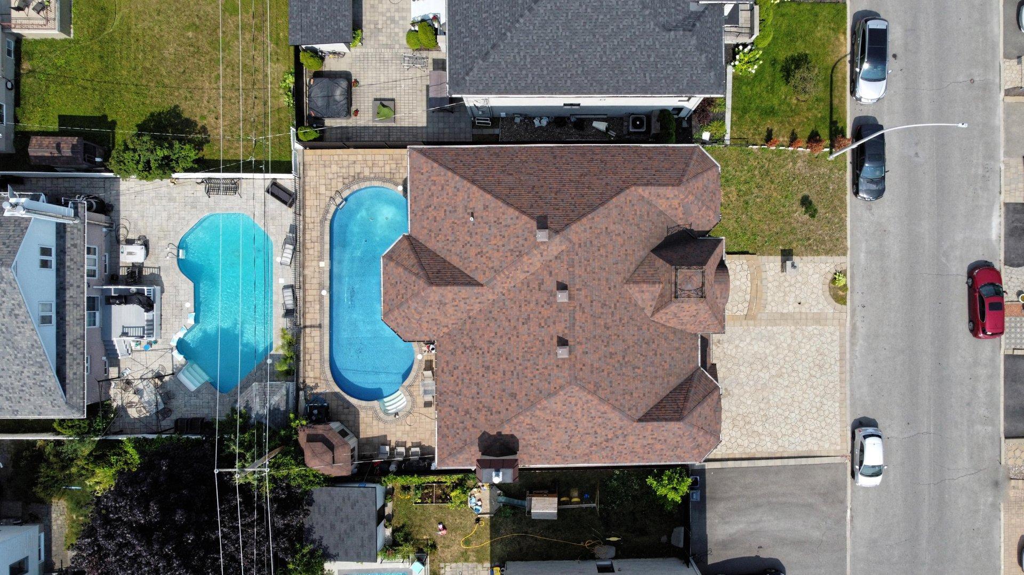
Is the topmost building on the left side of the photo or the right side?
left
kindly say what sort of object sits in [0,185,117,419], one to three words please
house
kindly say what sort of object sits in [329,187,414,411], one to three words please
swimming pool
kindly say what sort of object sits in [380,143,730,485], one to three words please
house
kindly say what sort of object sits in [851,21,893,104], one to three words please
car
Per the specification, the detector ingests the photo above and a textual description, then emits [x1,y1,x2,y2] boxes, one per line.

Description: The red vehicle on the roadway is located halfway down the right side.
[963,262,1008,337]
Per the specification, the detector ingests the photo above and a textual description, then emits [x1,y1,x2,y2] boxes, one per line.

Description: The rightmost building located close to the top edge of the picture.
[445,0,759,126]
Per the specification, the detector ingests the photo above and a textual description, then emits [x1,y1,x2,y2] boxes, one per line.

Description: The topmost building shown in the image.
[288,0,353,51]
